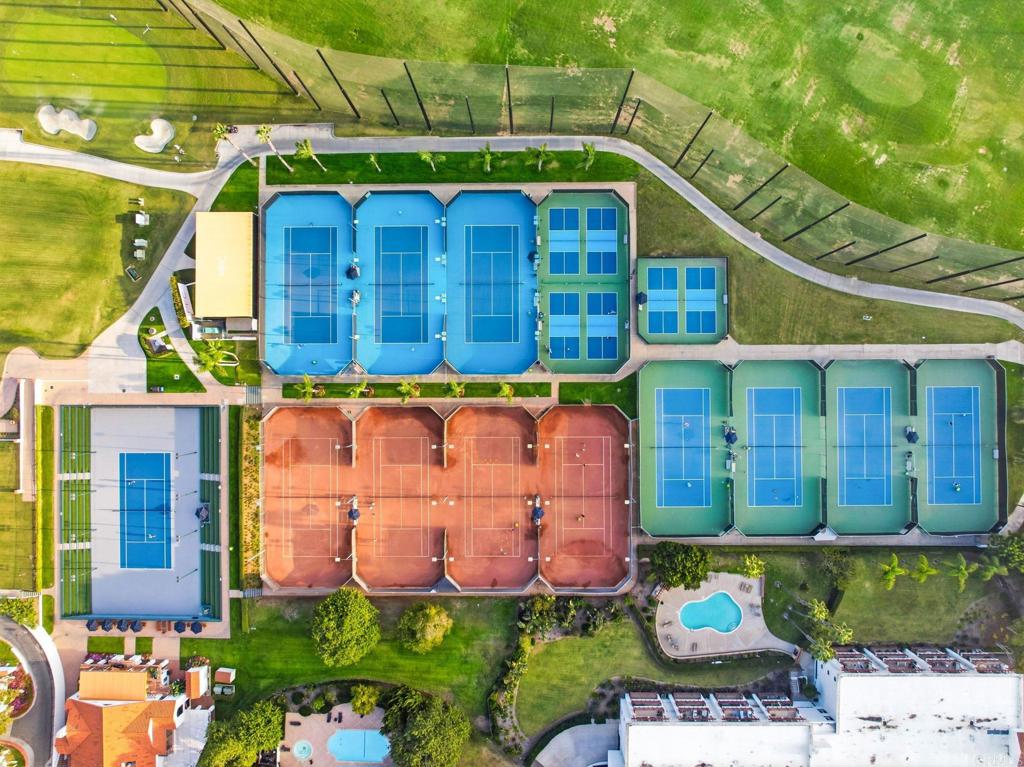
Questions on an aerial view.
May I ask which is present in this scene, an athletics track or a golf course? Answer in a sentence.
Visible in the photo is a golf course.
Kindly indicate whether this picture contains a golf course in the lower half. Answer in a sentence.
No, no golf course appears in the lower half.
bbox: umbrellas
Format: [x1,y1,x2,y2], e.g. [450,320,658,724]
[724,431,737,444]
[174,621,188,632]
[102,621,116,631]
[348,508,360,520]
[635,292,648,304]
[117,621,131,630]
[132,621,144,631]
[904,430,918,443]
[195,506,210,520]
[346,266,360,280]
[531,506,544,519]
[86,621,100,630]
[191,621,204,632]
[526,252,536,262]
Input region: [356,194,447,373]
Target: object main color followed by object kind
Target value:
blue tennis court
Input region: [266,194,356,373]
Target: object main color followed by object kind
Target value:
blue tennis court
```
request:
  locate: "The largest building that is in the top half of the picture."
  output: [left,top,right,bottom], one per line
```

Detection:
[195,212,260,317]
